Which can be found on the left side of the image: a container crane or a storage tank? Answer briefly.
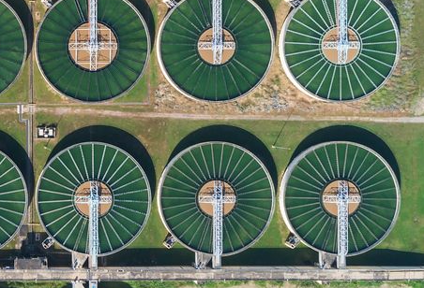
storage tank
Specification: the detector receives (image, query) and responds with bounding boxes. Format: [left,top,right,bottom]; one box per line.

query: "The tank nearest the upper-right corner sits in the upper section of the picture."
[279,0,399,102]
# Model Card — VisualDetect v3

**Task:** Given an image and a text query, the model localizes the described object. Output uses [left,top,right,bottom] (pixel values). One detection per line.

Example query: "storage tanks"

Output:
[157,140,275,268]
[0,0,28,95]
[0,150,28,248]
[157,0,275,102]
[35,0,151,103]
[279,0,399,102]
[279,140,399,267]
[35,142,151,268]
